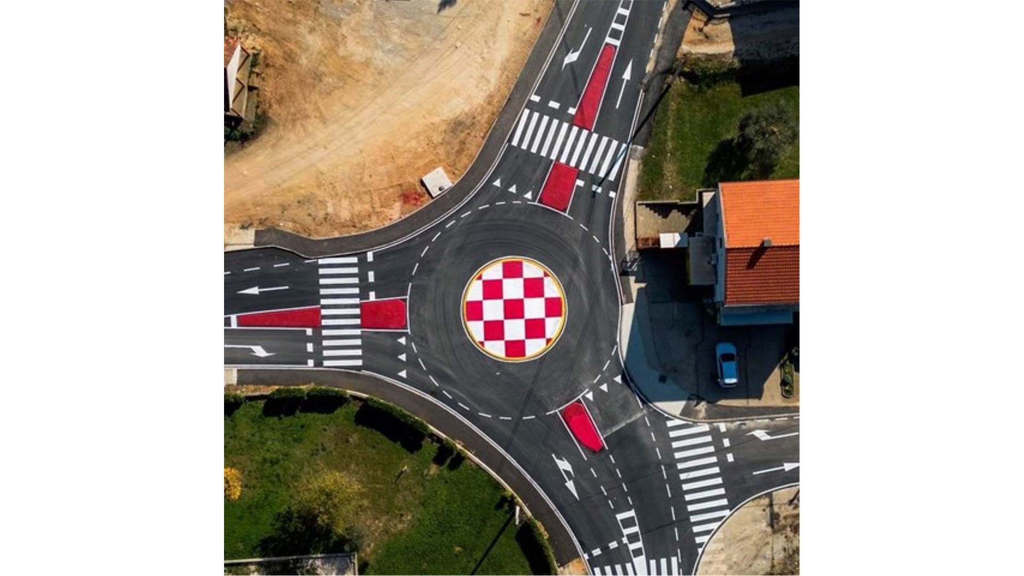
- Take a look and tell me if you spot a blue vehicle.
Yes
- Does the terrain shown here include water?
No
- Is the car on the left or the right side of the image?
right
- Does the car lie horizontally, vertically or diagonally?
vertically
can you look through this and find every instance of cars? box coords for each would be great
[716,345,740,390]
